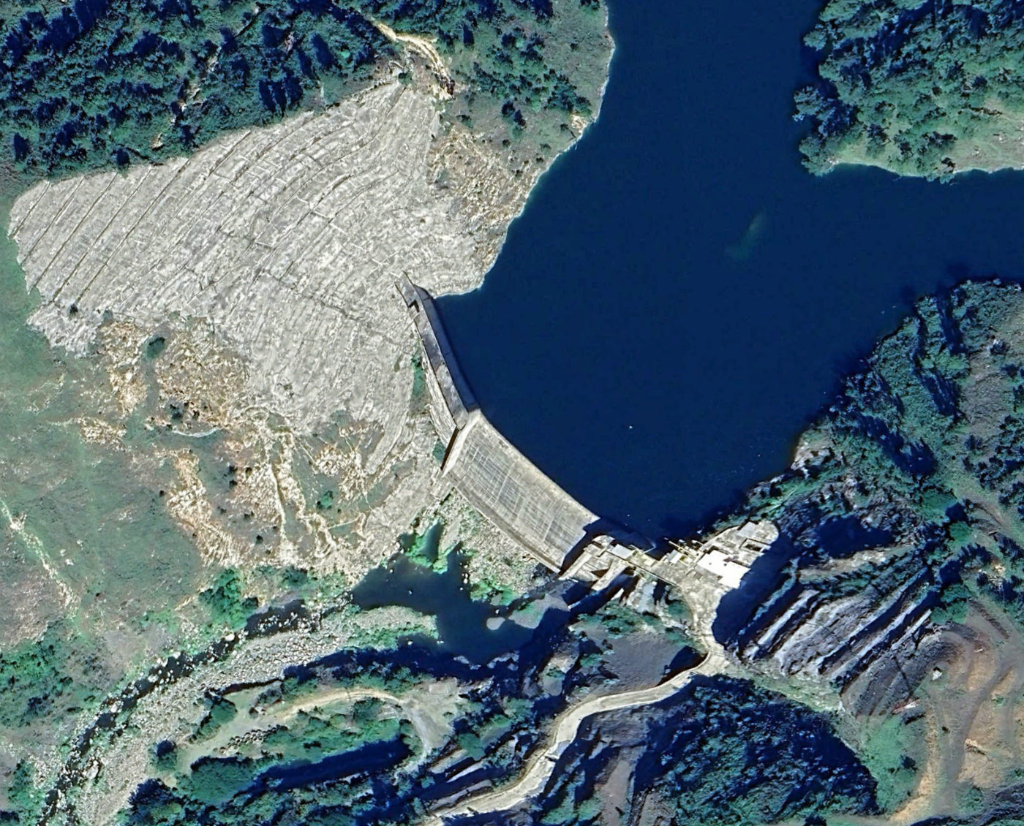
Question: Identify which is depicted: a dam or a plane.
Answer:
dam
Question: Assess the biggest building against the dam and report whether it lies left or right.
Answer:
to the right of it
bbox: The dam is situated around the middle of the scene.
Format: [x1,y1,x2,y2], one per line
[397,272,680,591]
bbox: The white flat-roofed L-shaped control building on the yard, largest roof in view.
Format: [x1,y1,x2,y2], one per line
[696,548,754,589]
